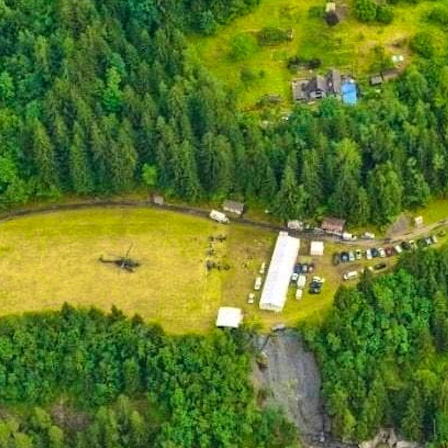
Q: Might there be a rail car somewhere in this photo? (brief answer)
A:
No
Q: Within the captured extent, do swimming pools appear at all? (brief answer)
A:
No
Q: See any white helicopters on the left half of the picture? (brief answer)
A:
No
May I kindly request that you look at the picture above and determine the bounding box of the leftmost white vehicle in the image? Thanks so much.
[208,208,229,224]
